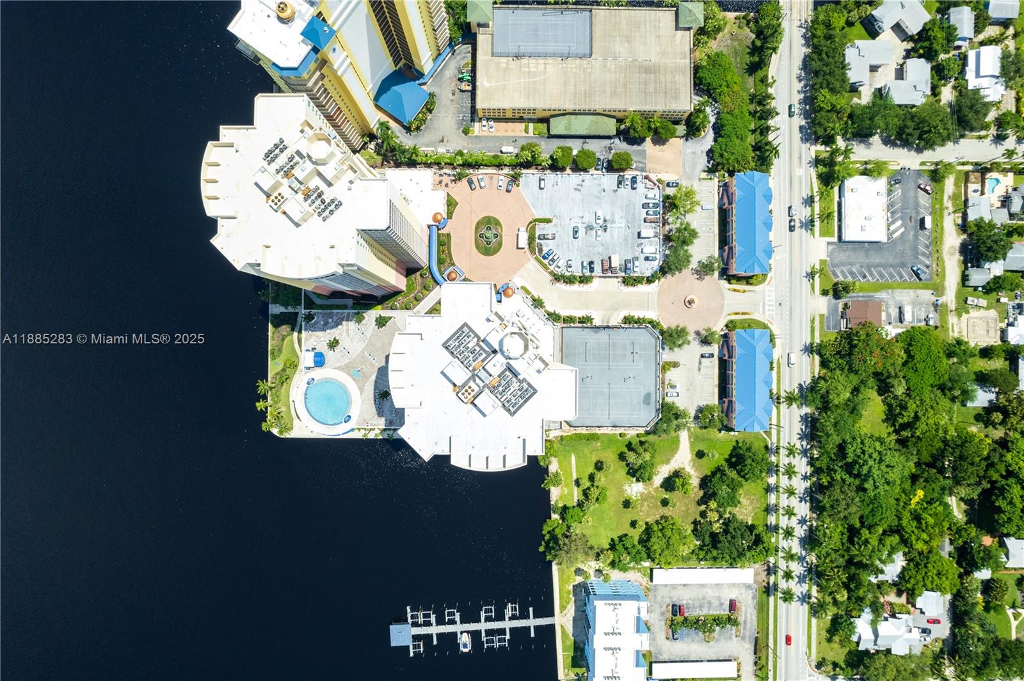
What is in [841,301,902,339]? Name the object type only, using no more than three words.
building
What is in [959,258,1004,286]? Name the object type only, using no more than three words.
house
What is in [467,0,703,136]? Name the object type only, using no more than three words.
building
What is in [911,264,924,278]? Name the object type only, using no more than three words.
vehicle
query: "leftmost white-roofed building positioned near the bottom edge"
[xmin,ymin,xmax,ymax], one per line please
[580,579,649,681]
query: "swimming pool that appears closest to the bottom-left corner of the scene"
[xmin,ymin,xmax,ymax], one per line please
[293,368,361,435]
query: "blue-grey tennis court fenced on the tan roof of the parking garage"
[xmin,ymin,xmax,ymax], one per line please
[493,6,592,57]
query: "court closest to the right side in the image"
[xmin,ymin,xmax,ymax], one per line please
[562,327,662,428]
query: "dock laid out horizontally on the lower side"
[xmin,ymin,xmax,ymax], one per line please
[406,606,556,658]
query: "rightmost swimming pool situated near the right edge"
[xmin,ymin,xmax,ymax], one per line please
[988,177,1002,195]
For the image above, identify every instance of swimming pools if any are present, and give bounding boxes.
[988,177,1002,195]
[293,368,361,435]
